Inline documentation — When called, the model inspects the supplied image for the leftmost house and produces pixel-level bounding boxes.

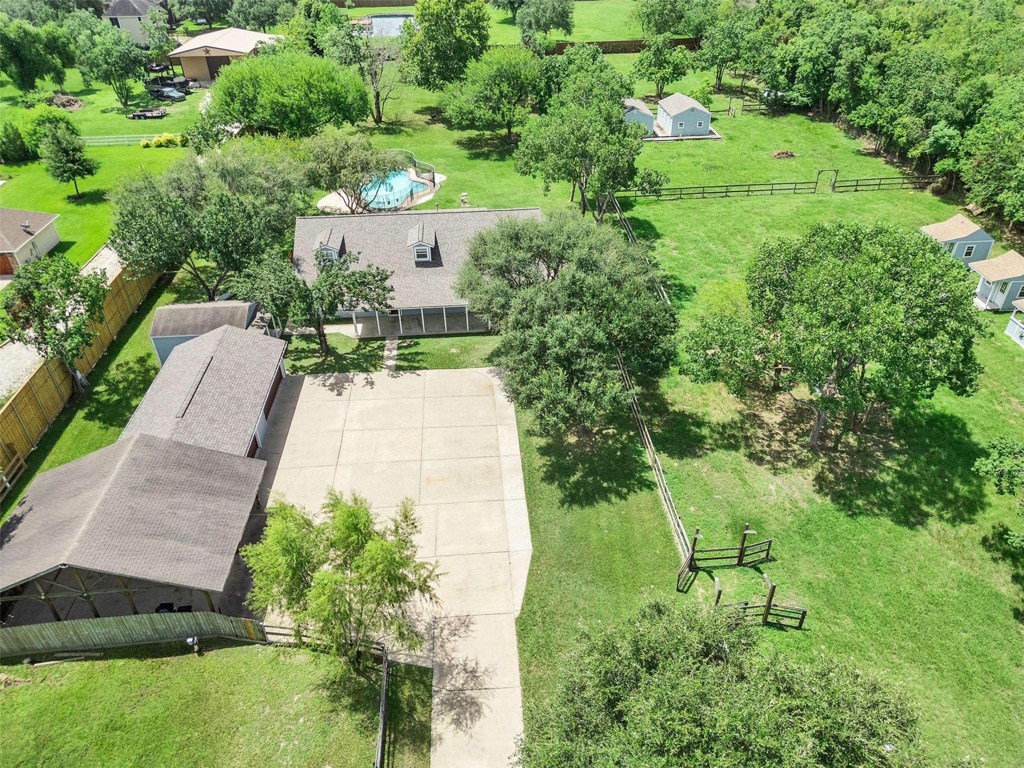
[0,213,61,276]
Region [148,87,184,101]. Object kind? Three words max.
vehicle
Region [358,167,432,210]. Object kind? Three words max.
swimming pool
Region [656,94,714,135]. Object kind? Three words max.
shed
